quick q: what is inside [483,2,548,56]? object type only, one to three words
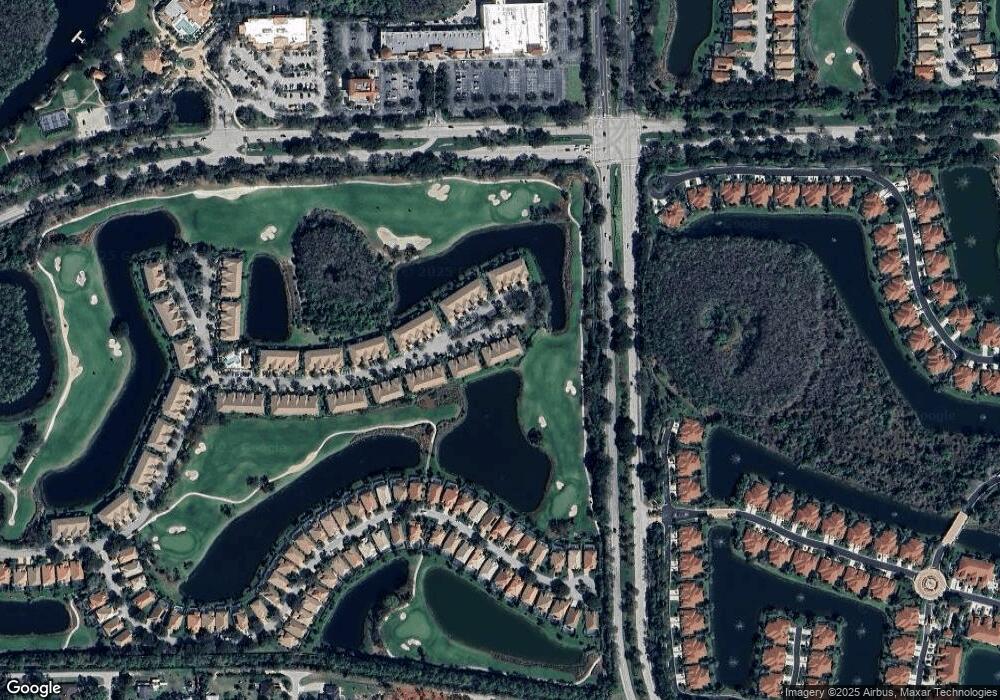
building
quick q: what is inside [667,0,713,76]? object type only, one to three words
pond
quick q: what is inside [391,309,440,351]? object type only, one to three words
house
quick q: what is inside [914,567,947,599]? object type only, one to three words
roundabout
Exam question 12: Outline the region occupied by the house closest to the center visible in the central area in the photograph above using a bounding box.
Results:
[480,335,524,367]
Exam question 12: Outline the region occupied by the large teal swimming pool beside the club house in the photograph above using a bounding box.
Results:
[178,16,198,37]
